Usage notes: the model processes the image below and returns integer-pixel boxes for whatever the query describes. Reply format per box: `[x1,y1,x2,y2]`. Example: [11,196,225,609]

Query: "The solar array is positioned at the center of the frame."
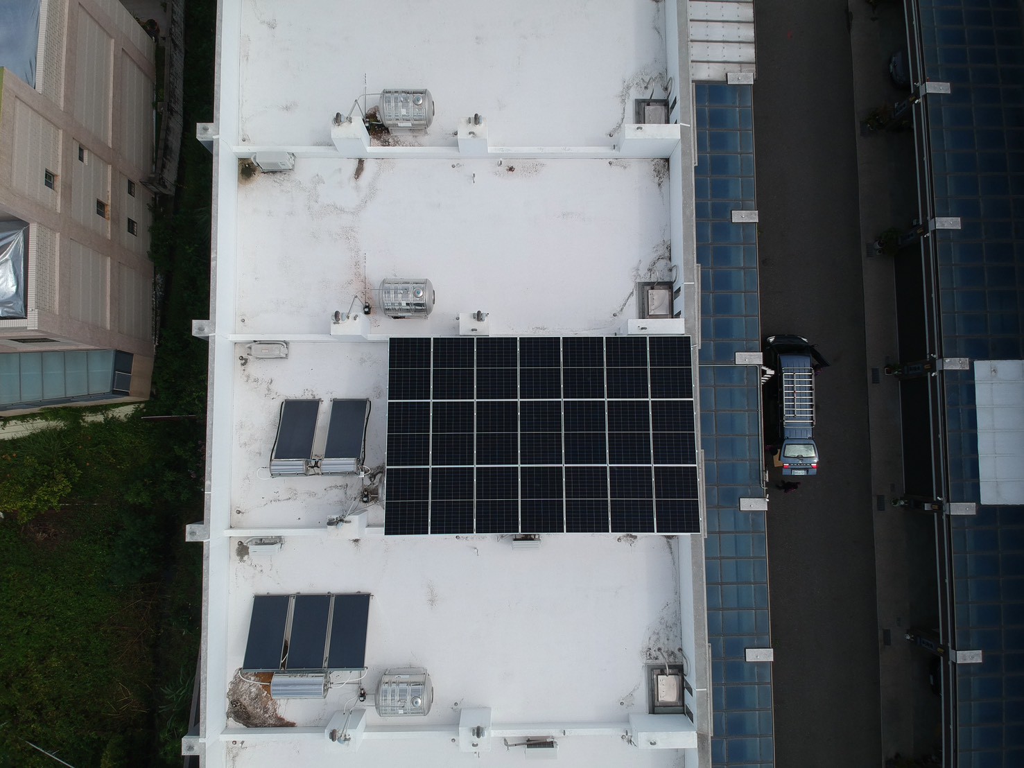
[384,337,702,534]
